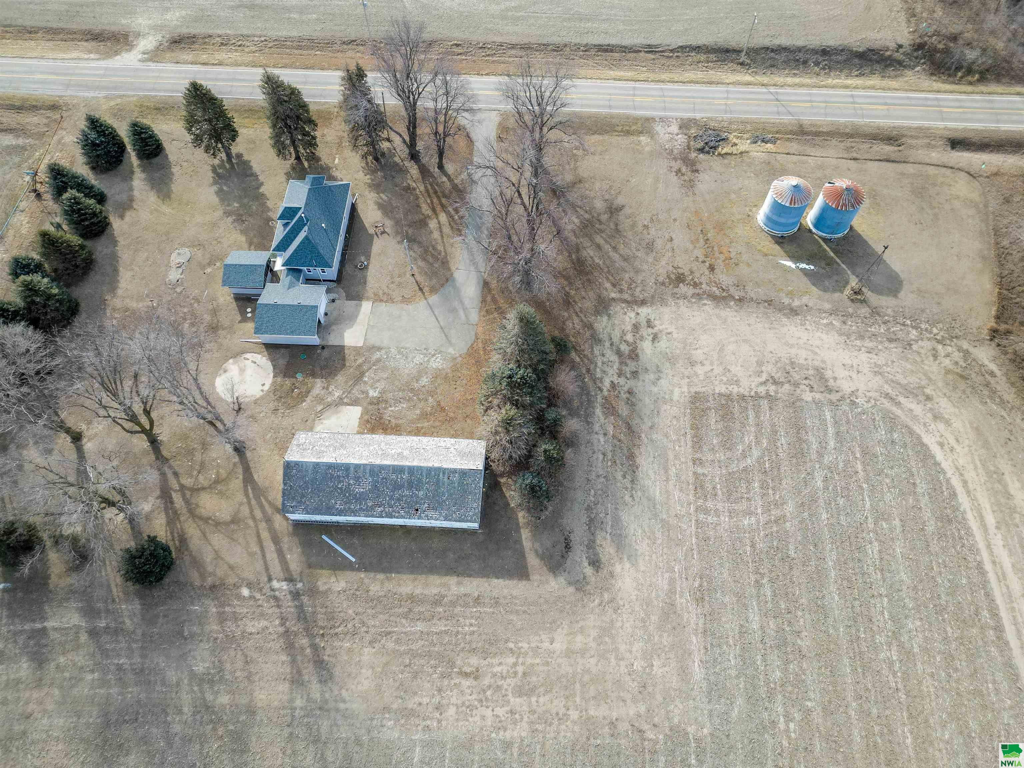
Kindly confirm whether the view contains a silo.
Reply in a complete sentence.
Yes, the picture does show a silo.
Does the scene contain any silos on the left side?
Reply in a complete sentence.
No, the scene shows no silo on the left side.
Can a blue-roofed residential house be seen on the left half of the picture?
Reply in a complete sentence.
Yes, a blue-roofed residential house appears on the left half of the picture.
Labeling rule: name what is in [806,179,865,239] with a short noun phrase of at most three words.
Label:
silo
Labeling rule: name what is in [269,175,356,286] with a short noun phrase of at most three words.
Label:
house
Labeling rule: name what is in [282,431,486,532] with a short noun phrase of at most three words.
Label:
barn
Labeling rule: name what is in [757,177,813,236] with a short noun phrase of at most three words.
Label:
silo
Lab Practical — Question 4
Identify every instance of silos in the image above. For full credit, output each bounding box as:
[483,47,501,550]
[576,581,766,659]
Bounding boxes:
[757,177,813,236]
[806,179,865,239]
